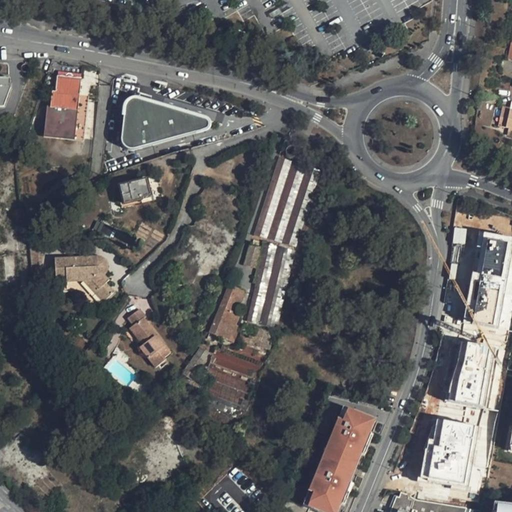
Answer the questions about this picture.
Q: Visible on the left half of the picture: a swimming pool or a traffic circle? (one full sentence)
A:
What appears on the left half of the picture is a swimming pool.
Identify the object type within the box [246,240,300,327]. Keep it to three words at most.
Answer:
building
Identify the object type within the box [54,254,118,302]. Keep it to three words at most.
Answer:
house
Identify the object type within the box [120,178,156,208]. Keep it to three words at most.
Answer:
house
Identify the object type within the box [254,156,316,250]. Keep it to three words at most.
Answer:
building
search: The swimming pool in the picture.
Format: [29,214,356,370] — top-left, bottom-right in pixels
[106,348,142,390]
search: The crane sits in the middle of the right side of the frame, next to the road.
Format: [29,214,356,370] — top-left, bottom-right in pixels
[419,210,494,368]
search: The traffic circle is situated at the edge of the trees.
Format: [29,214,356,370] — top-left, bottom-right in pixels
[362,95,441,174]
